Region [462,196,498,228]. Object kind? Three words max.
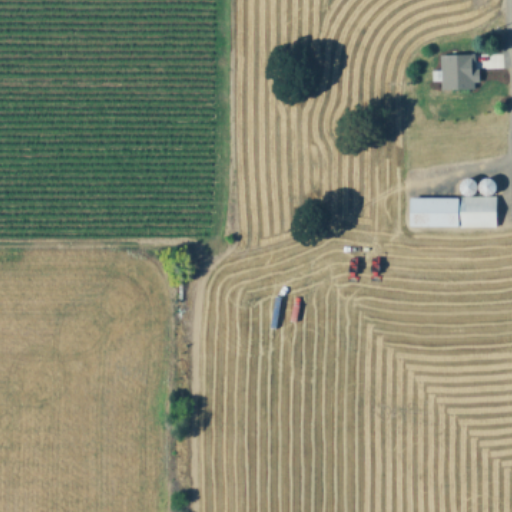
barn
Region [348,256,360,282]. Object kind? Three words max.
vehicle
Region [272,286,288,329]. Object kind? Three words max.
vehicle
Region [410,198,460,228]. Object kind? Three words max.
barn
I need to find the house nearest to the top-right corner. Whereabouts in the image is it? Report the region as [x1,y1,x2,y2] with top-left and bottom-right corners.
[433,54,480,90]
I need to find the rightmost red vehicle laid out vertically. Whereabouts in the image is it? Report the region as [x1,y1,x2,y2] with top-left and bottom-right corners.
[370,256,383,282]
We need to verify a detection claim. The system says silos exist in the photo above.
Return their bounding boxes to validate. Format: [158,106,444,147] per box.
[479,178,498,196]
[460,178,480,196]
